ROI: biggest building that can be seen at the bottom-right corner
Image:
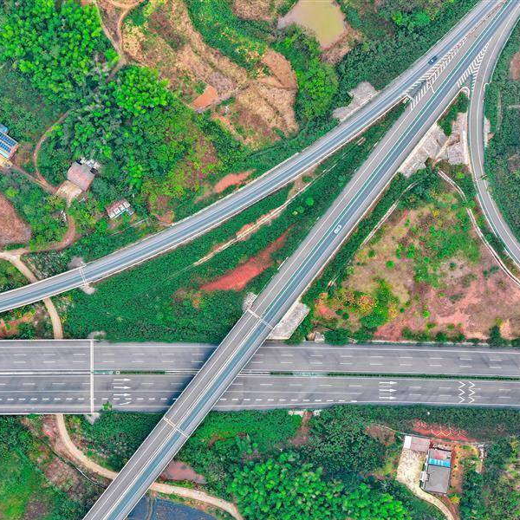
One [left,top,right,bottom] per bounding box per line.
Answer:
[419,457,452,492]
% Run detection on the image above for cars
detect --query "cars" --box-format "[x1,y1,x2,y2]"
[334,224,341,234]
[429,54,439,63]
